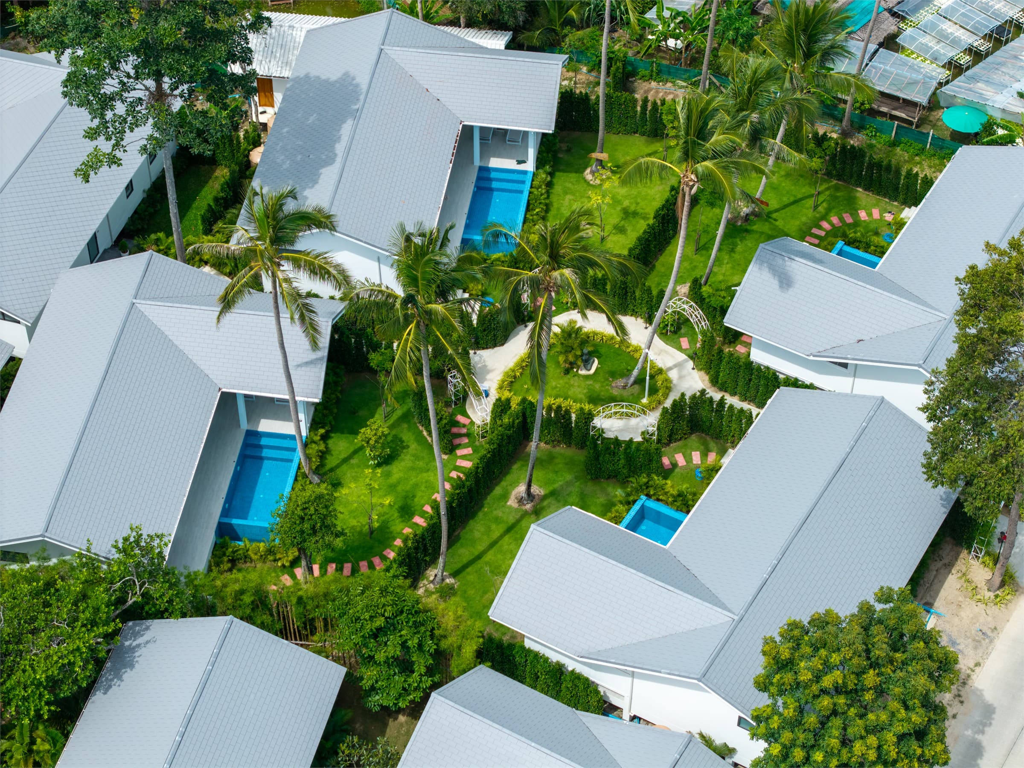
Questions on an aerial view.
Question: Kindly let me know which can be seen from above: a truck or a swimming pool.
swimming pool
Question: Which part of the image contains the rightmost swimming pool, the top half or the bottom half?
top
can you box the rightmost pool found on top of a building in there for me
[837,245,880,267]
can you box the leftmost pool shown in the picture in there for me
[218,437,298,528]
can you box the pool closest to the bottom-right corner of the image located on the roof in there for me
[626,499,685,547]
